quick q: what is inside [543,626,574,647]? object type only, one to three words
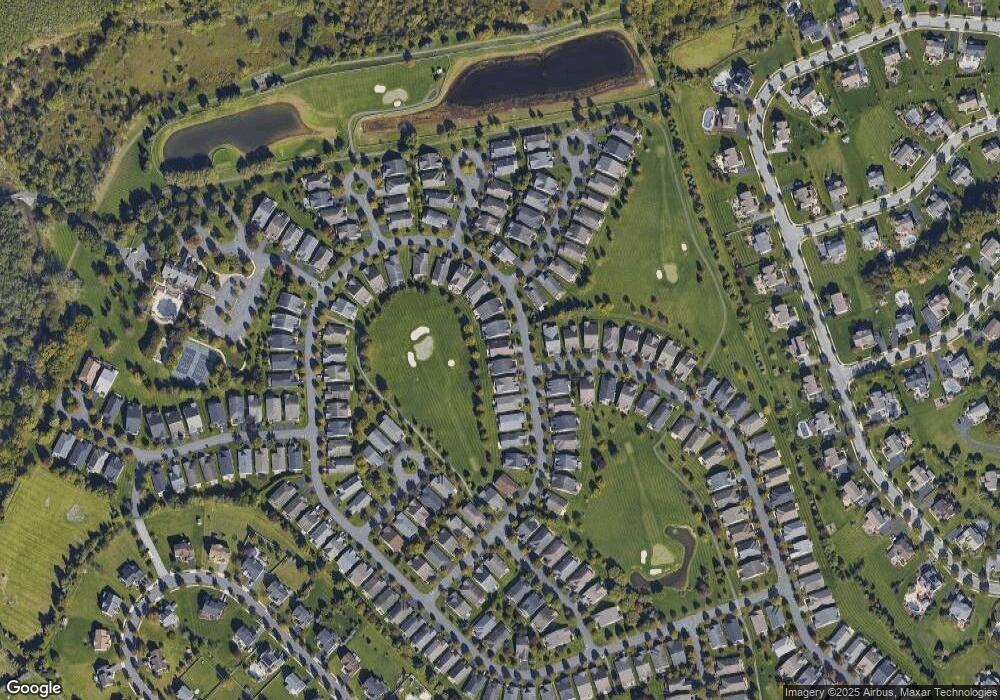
house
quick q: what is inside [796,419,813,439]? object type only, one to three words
swimming pool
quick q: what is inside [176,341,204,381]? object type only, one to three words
tennis court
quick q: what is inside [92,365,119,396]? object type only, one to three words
barn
